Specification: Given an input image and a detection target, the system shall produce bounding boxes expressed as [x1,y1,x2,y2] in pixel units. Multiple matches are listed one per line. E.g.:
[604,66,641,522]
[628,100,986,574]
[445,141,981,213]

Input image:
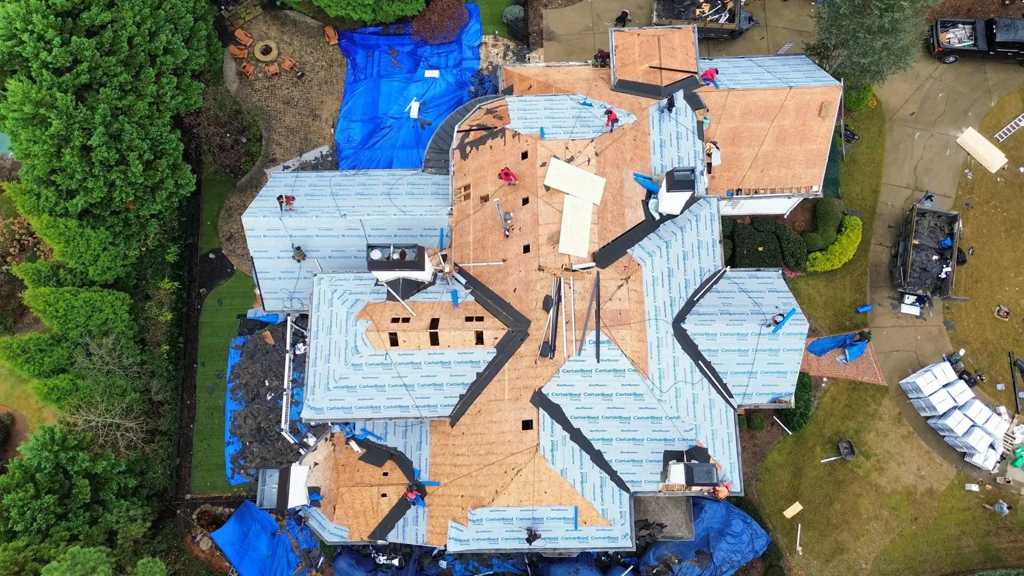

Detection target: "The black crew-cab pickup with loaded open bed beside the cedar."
[926,14,1024,63]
